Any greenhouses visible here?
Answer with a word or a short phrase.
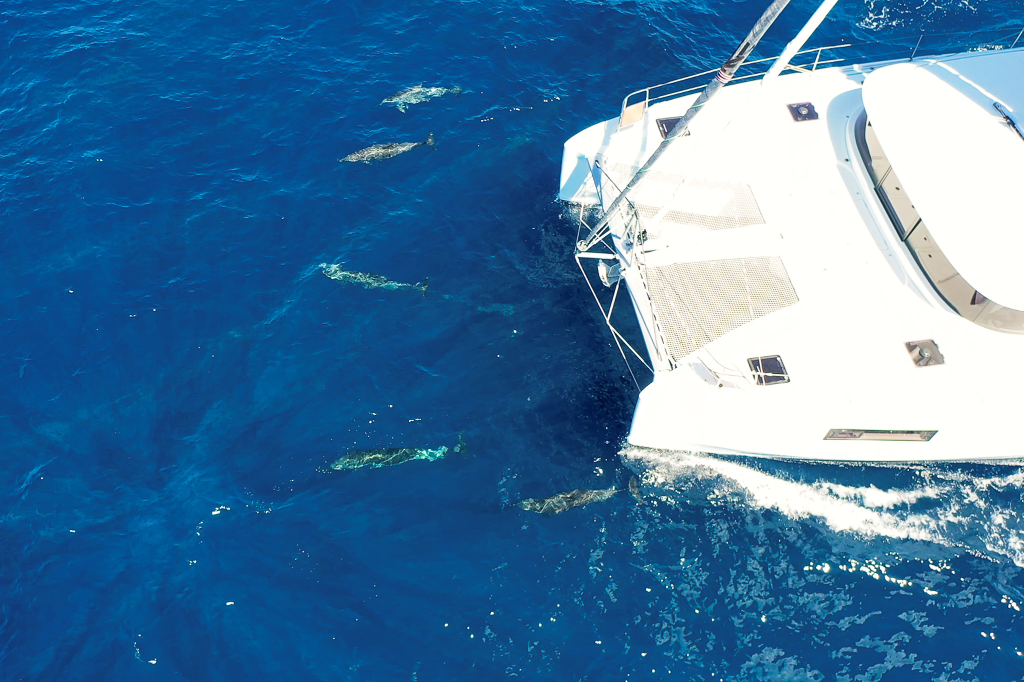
No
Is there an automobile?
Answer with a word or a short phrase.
No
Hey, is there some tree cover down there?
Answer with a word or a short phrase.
No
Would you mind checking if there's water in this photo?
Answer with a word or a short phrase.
Yes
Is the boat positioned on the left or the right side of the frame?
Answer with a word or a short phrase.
right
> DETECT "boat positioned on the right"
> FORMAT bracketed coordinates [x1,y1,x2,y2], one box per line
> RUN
[561,0,1024,461]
